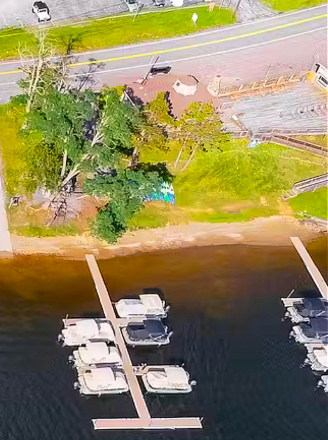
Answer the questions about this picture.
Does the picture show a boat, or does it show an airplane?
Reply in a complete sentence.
This aerial view contains a boat.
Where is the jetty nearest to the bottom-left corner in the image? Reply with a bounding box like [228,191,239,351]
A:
[61,254,205,432]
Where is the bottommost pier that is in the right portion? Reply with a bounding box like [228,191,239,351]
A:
[279,237,328,307]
